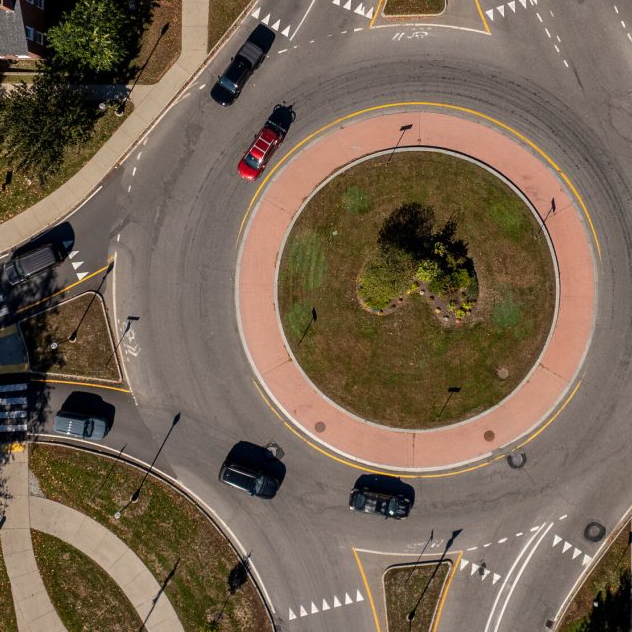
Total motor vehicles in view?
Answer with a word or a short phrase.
6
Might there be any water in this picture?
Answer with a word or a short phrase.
No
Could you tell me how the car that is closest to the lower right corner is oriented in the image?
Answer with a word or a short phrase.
from side to side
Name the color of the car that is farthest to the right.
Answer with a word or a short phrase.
black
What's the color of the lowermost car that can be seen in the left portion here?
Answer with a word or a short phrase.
black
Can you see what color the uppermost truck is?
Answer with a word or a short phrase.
black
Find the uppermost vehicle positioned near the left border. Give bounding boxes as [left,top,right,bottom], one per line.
[6,243,70,285]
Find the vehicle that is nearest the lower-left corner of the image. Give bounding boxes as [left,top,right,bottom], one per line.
[53,411,111,443]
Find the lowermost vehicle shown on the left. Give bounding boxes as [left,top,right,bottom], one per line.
[218,461,279,498]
